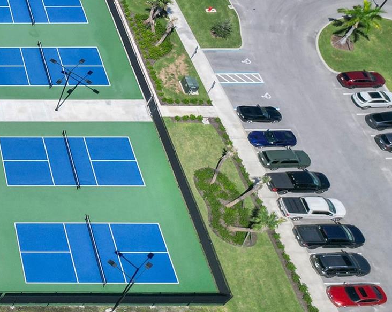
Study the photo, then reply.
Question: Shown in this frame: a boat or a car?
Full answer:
This aerial view contains a car.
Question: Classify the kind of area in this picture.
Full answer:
This looks like a sports ground.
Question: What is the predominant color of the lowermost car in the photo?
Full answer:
From above, the lowermost car appears red.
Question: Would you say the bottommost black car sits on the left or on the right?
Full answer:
The bottommost black car sits on the right side.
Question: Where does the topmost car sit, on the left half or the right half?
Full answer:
The topmost car is on the right side of the image.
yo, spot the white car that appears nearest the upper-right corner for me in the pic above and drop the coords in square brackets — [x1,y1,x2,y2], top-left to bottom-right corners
[351,88,392,109]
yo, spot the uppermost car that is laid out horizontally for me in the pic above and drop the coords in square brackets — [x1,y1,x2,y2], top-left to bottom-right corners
[336,66,390,89]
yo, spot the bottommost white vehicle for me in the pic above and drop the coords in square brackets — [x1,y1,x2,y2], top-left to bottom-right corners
[277,191,351,219]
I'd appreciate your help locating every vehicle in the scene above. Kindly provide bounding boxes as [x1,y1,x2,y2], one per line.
[277,191,351,219]
[326,279,392,307]
[310,249,376,277]
[375,129,392,152]
[233,100,285,122]
[247,125,303,147]
[265,167,335,192]
[365,110,392,130]
[258,144,316,169]
[290,219,370,247]
[336,66,390,89]
[351,88,392,109]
